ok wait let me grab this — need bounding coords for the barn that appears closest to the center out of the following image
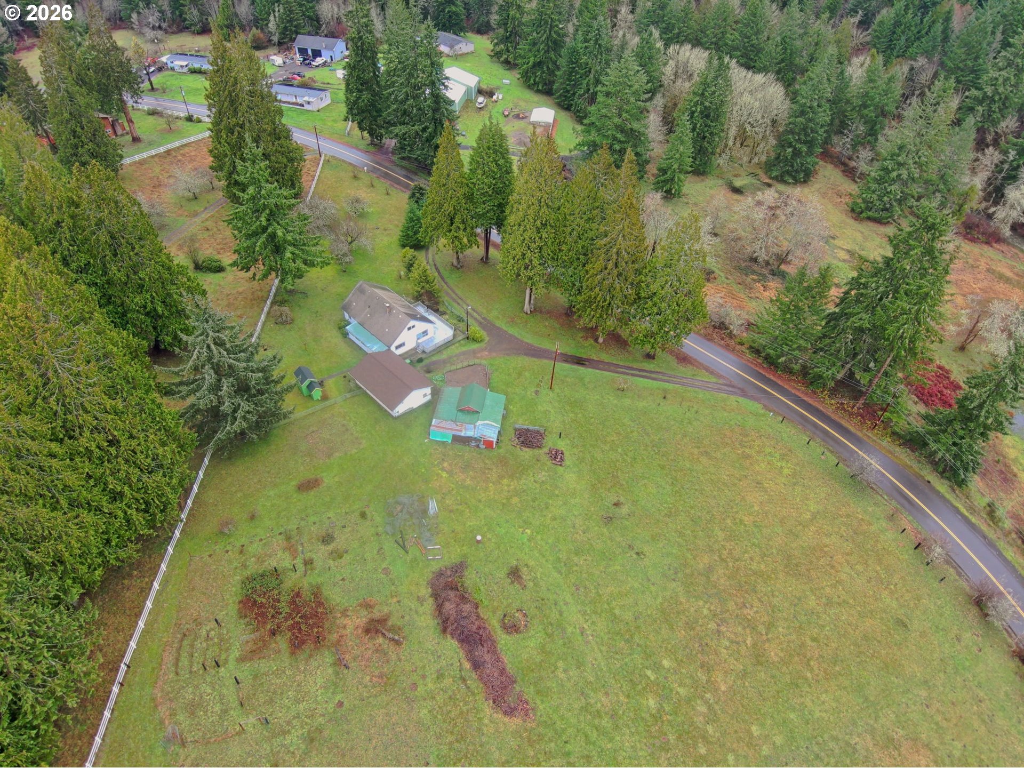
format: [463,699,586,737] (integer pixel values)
[427,375,511,452]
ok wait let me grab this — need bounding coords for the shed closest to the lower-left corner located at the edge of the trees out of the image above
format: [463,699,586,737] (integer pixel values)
[293,367,322,404]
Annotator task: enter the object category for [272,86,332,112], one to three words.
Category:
house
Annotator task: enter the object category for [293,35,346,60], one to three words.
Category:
building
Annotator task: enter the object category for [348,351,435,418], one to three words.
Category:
building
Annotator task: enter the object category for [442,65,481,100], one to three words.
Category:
barn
